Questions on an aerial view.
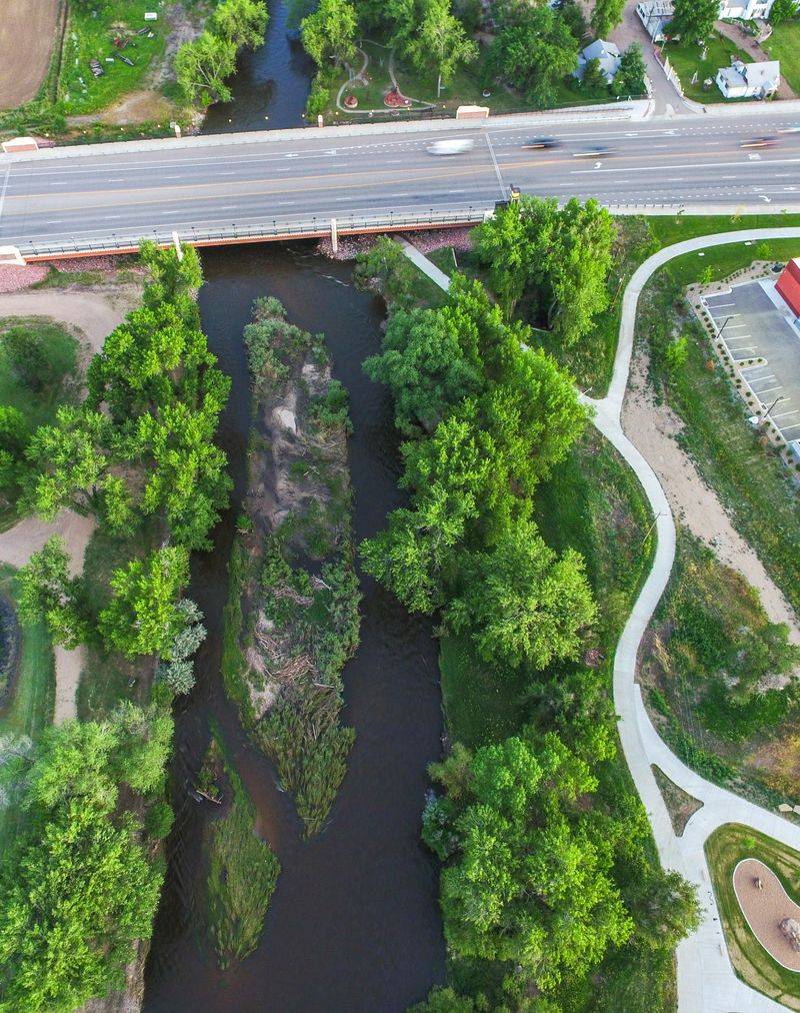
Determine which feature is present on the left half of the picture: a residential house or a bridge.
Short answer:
bridge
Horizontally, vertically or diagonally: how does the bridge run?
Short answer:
horizontally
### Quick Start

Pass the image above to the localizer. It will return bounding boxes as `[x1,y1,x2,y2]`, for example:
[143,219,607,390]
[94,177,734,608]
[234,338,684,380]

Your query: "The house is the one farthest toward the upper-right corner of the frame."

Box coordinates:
[724,0,773,29]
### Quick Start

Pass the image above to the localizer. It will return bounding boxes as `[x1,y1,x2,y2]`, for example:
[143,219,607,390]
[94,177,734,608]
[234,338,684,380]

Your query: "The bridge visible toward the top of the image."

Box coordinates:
[24,113,483,261]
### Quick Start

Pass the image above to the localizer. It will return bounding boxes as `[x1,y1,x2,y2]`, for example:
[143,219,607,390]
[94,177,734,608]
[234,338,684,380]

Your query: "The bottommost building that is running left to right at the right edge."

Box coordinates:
[707,58,791,99]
